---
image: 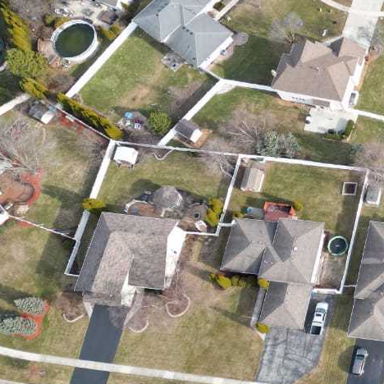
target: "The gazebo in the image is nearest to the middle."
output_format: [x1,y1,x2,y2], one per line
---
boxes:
[156,186,187,214]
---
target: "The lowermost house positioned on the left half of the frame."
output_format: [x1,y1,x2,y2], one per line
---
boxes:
[75,213,186,302]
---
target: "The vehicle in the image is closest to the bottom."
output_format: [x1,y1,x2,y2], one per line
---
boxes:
[350,348,366,378]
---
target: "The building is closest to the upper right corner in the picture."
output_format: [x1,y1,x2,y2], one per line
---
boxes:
[273,42,369,107]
